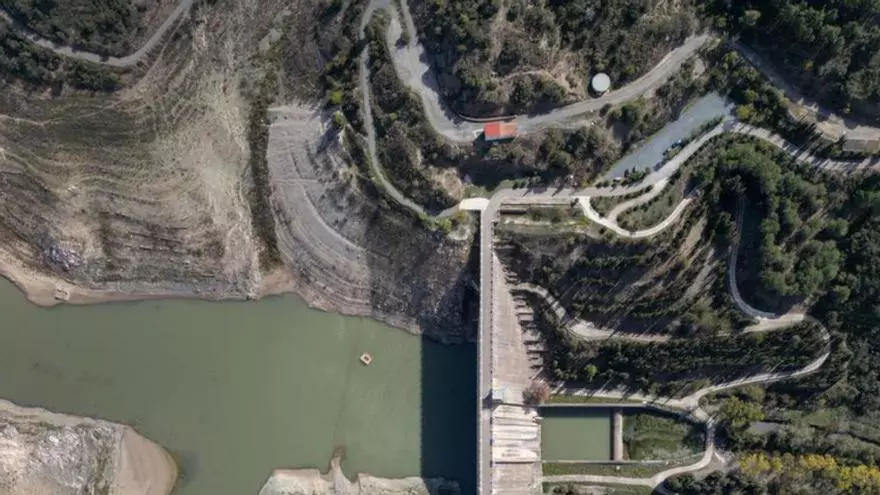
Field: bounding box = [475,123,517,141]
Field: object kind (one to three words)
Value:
house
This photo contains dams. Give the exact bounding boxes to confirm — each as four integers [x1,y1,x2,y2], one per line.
[475,191,546,495]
